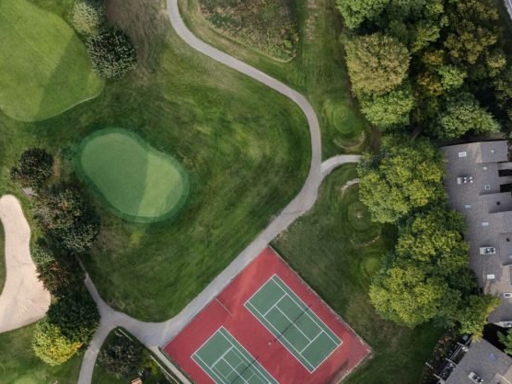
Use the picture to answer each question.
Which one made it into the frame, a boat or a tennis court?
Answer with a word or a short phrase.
tennis court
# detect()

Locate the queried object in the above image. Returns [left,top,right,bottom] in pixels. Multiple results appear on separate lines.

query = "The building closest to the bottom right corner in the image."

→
[438,338,512,384]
